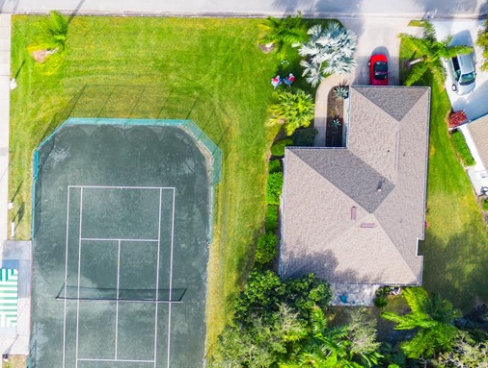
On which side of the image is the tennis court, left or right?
left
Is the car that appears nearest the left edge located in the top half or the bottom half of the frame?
top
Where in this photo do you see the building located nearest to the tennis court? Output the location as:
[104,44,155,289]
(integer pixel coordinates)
[273,83,431,288]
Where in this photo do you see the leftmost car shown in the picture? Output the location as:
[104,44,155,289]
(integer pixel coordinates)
[368,53,392,84]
